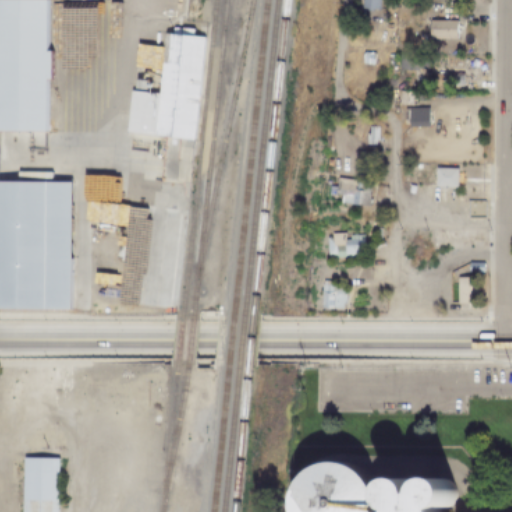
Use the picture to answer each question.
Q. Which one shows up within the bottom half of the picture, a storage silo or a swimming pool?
storage silo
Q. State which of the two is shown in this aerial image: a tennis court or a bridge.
bridge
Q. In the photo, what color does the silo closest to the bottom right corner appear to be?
white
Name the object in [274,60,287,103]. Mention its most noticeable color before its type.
white rail car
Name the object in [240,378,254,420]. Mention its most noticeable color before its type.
white rail car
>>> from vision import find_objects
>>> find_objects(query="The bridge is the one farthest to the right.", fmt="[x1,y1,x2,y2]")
[216,314,264,364]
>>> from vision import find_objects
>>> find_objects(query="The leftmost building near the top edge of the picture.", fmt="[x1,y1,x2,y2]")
[0,0,56,131]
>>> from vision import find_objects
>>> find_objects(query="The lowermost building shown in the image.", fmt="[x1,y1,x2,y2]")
[24,457,62,512]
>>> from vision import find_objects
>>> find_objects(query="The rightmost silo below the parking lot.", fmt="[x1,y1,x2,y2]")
[398,474,456,510]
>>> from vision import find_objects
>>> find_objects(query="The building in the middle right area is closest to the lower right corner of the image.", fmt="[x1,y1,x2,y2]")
[459,278,472,304]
